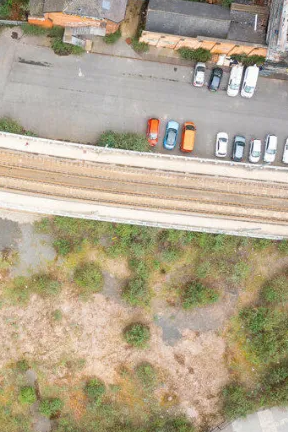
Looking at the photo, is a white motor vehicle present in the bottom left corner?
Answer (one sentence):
No, I can find no white motor vehicle in the bottom left corner.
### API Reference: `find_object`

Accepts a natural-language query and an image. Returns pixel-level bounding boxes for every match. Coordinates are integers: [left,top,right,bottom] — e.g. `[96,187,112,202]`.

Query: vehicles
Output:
[179,122,197,153]
[248,137,263,165]
[213,131,230,160]
[146,118,160,148]
[162,120,179,151]
[207,66,224,93]
[191,62,208,88]
[262,133,280,164]
[280,136,288,166]
[230,134,248,164]
[224,62,246,100]
[238,63,262,101]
